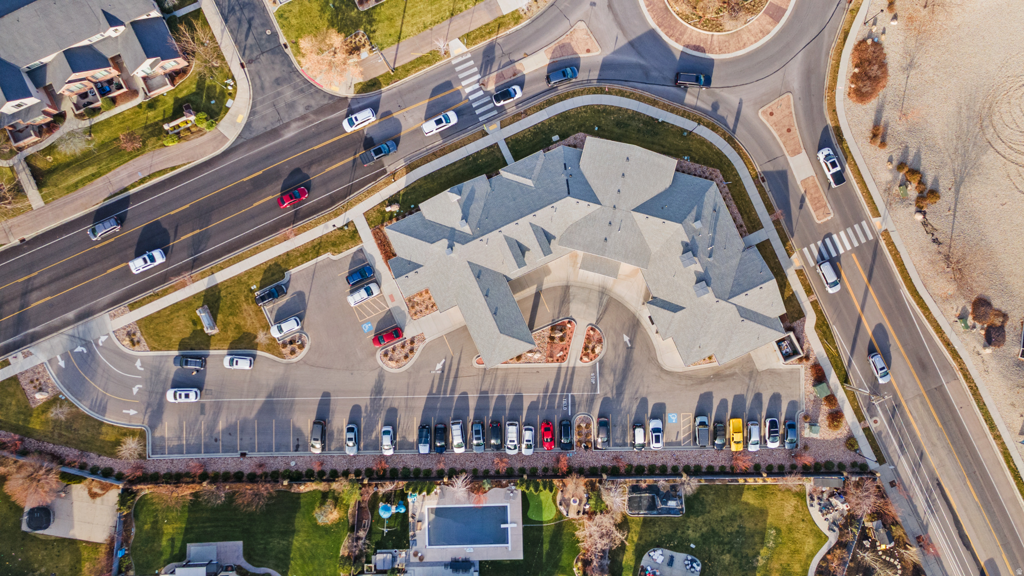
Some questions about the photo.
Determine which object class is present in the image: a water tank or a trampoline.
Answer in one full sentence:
There is a trampoline in the scene.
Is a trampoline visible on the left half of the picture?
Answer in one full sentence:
Yes, a trampoline can be seen on the left half of the picture.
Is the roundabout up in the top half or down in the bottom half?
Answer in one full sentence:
You can find the roundabout in the top half.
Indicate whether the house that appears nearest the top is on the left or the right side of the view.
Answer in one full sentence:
The house that appears nearest the top is on the left side of the image.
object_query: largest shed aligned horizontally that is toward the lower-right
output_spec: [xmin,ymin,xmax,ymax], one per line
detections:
[809,474,844,488]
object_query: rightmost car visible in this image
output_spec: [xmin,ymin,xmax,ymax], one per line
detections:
[867,352,890,383]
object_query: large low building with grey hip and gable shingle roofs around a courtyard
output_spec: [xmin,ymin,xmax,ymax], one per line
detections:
[387,134,786,370]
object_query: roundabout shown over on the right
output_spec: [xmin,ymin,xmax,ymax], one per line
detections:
[639,0,795,58]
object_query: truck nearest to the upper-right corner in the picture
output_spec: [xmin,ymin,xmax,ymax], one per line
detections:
[818,147,846,188]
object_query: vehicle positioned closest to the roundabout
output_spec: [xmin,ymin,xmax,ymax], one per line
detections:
[675,71,710,88]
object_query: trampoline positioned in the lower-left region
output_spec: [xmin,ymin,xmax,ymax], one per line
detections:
[19,506,54,535]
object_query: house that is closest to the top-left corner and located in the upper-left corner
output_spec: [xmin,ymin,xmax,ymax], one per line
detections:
[0,0,183,143]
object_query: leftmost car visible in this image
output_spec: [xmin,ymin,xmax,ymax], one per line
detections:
[88,217,123,238]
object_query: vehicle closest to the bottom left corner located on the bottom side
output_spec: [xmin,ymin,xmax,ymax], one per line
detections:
[166,388,200,403]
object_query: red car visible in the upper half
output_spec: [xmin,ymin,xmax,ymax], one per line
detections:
[276,188,309,209]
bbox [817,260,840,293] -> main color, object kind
white car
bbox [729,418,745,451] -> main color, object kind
yellow vehicle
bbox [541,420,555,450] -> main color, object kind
red car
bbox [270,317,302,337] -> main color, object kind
white car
